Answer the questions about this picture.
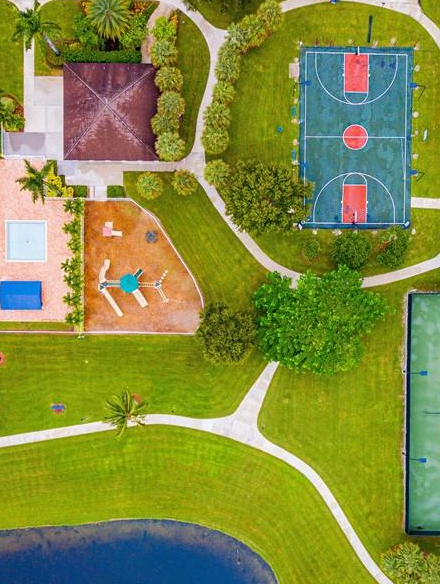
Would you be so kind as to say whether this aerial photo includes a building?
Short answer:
Yes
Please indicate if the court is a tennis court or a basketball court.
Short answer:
basketball court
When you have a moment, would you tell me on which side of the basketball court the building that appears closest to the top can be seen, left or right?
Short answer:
left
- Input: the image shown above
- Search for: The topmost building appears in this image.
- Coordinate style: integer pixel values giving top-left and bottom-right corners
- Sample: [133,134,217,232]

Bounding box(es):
[63,63,159,160]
